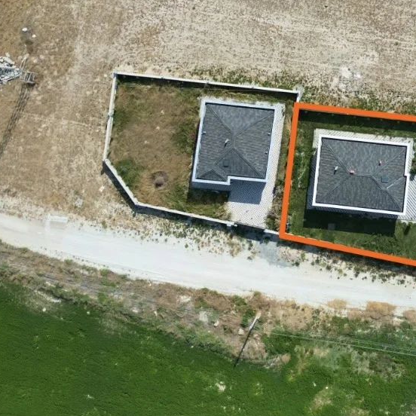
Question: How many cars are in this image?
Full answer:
I count no cars.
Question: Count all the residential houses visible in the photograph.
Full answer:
I count 2 residential houses.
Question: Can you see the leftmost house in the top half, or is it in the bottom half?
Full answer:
The leftmost house is in the top half of the image.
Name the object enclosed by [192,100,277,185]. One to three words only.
house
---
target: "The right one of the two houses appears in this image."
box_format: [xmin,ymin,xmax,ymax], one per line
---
[312,134,410,216]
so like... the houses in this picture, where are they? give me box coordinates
[312,134,410,216]
[192,100,277,185]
